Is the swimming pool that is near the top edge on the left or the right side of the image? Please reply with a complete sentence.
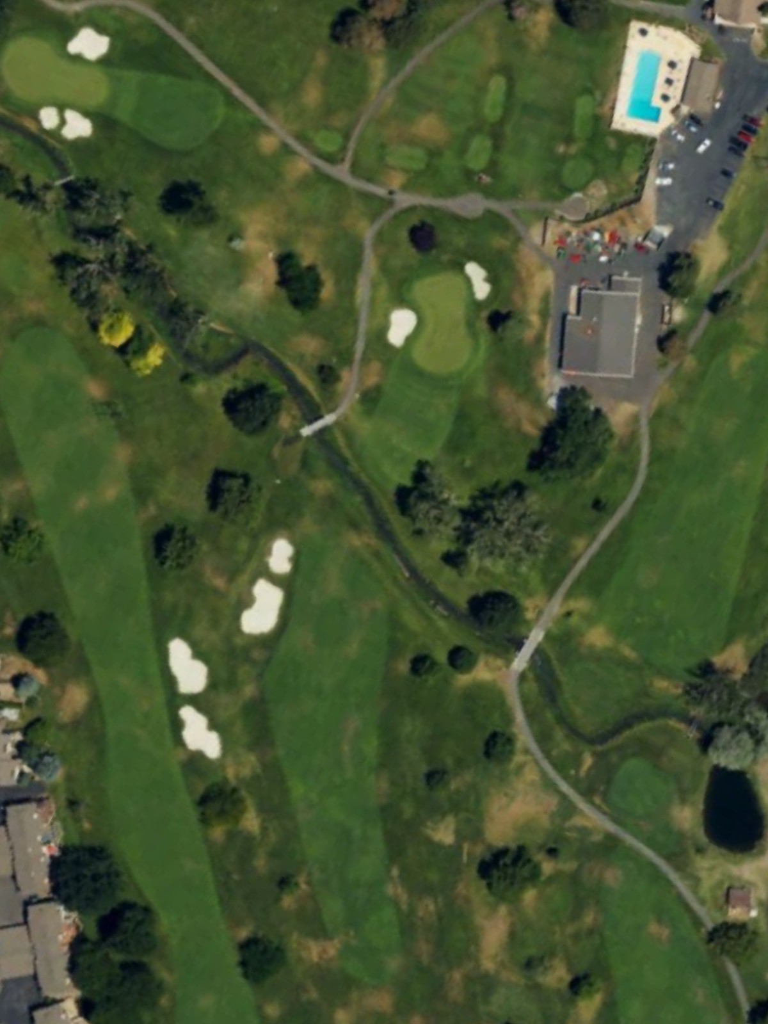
You can find the swimming pool that is near the top edge on the right side of the picture.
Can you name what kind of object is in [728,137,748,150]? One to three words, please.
vehicle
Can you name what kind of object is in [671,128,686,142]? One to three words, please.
car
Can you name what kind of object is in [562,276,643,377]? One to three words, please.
building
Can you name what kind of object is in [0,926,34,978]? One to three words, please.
house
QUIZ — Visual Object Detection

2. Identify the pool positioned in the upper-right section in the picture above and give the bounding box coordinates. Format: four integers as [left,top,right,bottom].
[611,20,701,139]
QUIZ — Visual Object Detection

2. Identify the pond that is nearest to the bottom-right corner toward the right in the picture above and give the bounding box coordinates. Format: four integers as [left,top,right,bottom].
[703,764,764,853]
